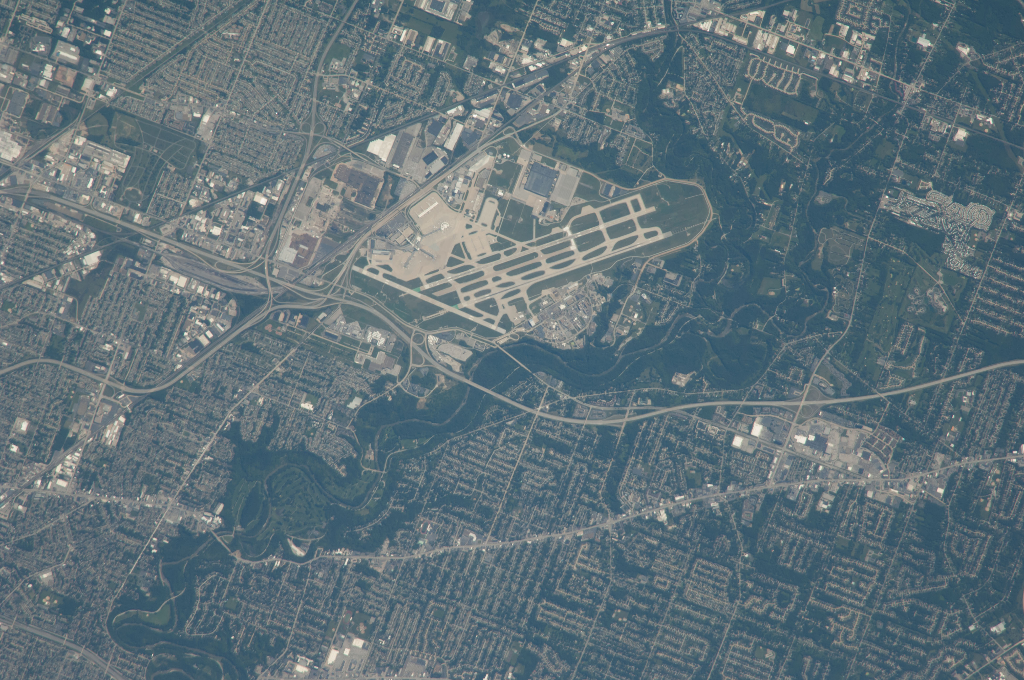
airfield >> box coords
[336,150,731,353]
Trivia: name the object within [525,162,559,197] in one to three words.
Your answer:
building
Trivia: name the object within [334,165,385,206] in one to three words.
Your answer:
building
